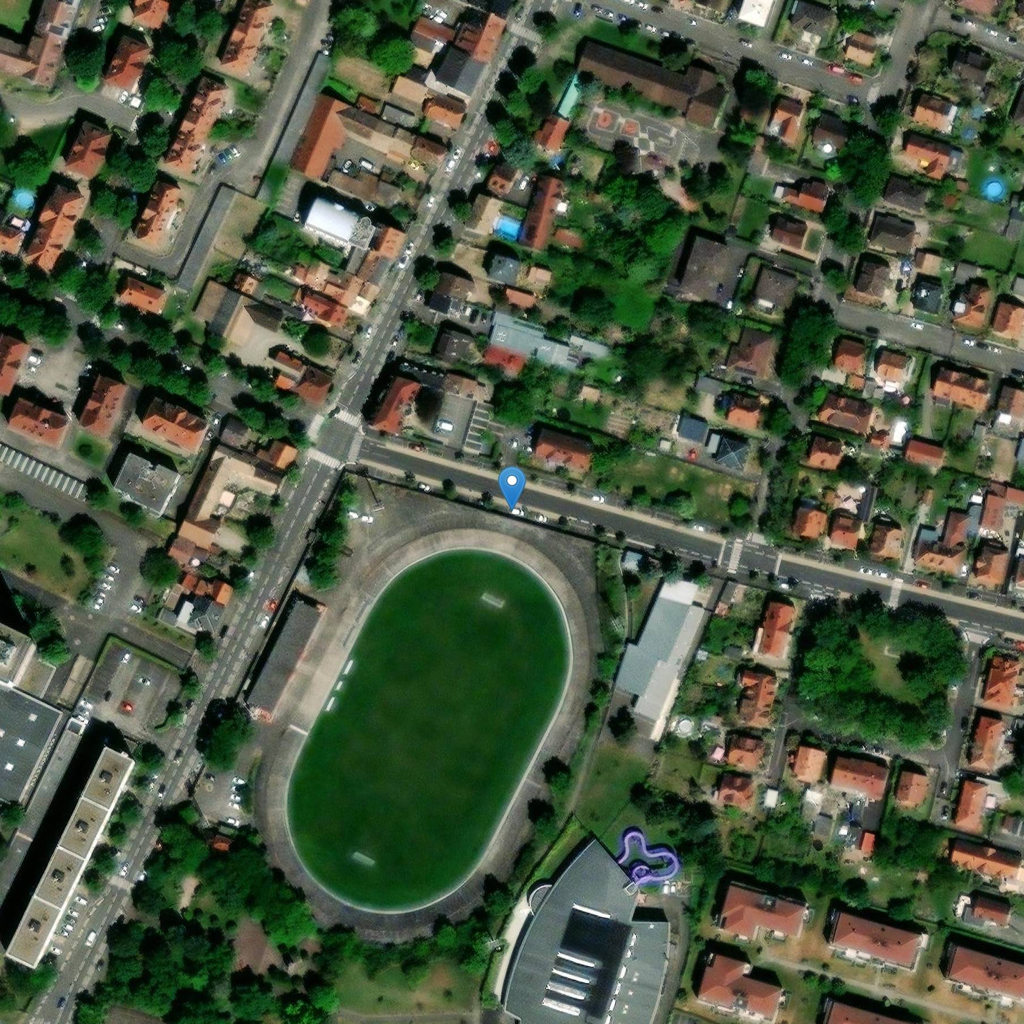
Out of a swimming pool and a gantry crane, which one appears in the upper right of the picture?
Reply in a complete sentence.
Looking in the upper right of the picture, you will find a swimming pool.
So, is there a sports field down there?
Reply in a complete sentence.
Yes, there's a sports field down there.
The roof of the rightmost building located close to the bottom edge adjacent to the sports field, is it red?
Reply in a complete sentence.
No, the roof of the rightmost building located close to the bottom edge adjacent to the sports field is actually gray.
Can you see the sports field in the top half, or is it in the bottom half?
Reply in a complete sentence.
The bottom half of the photo is where the sports field is.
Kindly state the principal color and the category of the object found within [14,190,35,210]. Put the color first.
blue swimming pool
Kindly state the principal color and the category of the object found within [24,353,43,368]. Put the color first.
white vehicle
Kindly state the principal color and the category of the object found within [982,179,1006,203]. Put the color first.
blue swimming pool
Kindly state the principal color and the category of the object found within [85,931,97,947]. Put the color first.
white vehicle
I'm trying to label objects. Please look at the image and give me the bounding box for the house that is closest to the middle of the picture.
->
[532,423,596,467]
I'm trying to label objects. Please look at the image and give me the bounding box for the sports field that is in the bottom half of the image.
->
[290,552,567,908]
